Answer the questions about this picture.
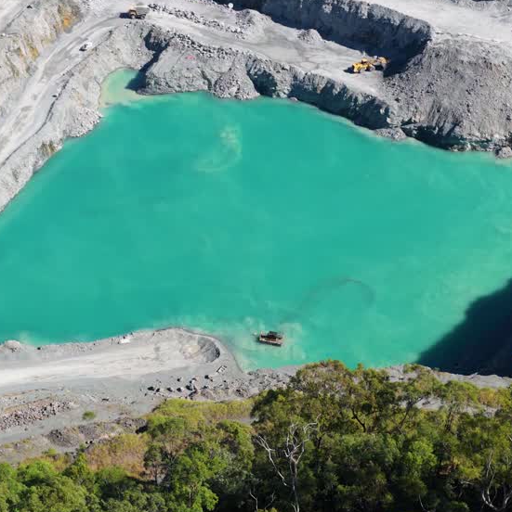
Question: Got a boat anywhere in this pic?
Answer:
No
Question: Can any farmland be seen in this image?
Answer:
No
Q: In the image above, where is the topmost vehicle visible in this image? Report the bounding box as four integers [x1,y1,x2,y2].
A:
[128,3,152,20]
